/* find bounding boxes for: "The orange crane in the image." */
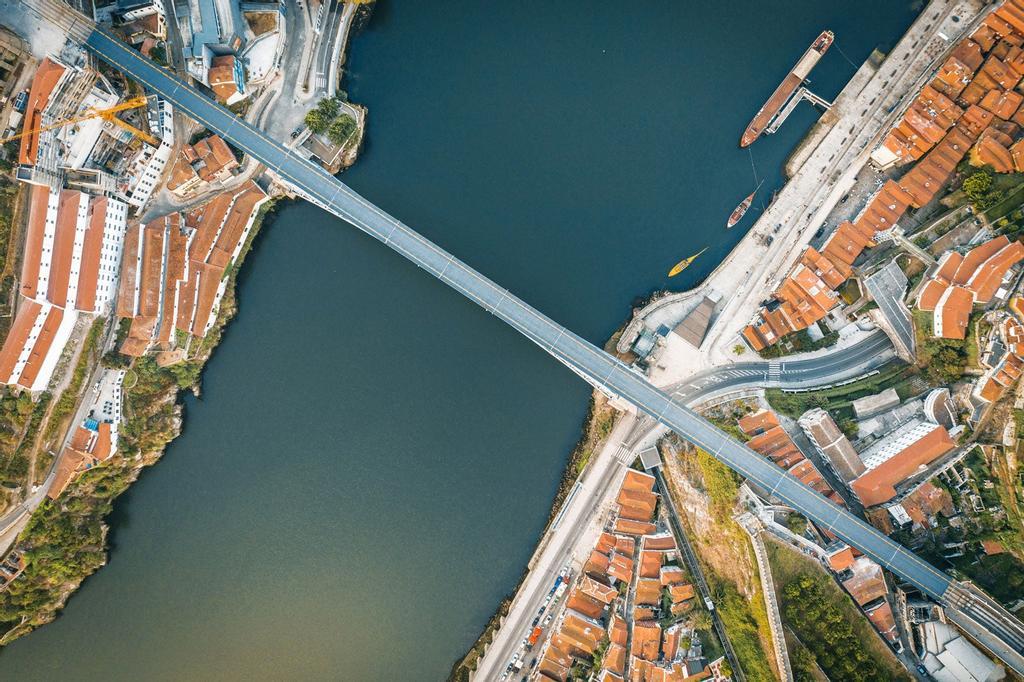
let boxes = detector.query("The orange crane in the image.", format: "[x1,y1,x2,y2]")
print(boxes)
[0,100,164,145]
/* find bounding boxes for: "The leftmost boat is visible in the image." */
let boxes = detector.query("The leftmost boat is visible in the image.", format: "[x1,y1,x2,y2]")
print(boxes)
[668,247,709,277]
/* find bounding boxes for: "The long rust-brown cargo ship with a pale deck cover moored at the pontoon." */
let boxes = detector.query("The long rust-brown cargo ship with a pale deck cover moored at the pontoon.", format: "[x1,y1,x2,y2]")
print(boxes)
[740,27,836,148]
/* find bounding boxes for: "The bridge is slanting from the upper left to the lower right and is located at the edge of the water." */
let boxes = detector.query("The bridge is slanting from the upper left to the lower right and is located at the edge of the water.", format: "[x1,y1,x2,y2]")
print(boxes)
[82,24,956,600]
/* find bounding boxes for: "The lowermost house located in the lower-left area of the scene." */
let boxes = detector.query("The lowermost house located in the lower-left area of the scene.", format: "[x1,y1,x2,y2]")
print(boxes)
[0,547,30,590]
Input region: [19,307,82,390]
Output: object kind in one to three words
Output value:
building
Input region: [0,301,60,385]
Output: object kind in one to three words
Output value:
building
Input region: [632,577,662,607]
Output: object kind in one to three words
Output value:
house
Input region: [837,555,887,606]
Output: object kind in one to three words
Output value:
house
